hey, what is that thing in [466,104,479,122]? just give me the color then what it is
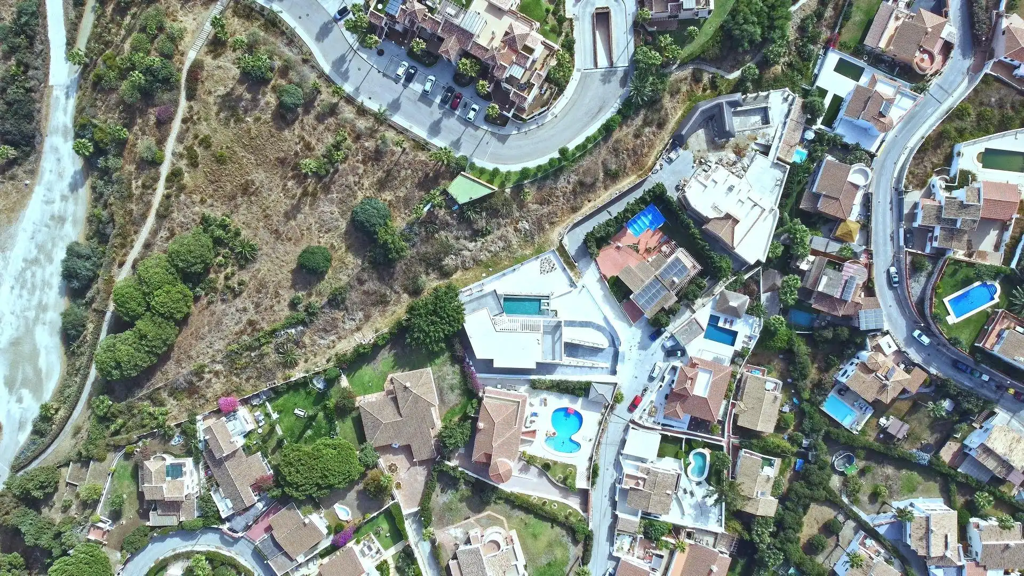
white vehicle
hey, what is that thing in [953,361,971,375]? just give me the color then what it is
blue car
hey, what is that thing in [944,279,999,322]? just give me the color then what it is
blue swimming pool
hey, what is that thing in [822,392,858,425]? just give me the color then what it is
blue swimming pool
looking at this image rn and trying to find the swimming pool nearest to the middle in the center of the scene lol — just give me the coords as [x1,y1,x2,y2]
[502,297,543,316]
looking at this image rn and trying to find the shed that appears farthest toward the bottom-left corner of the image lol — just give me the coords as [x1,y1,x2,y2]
[87,515,120,543]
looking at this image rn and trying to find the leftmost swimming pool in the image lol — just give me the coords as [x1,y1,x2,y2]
[167,464,184,479]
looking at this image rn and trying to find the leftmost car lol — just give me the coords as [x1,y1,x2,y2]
[250,498,268,514]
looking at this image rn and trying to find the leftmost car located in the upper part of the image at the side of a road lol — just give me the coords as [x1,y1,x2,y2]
[334,5,351,22]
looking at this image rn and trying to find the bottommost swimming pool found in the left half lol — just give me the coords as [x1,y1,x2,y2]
[333,504,352,520]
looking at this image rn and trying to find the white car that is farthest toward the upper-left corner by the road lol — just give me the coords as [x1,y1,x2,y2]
[395,60,410,79]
